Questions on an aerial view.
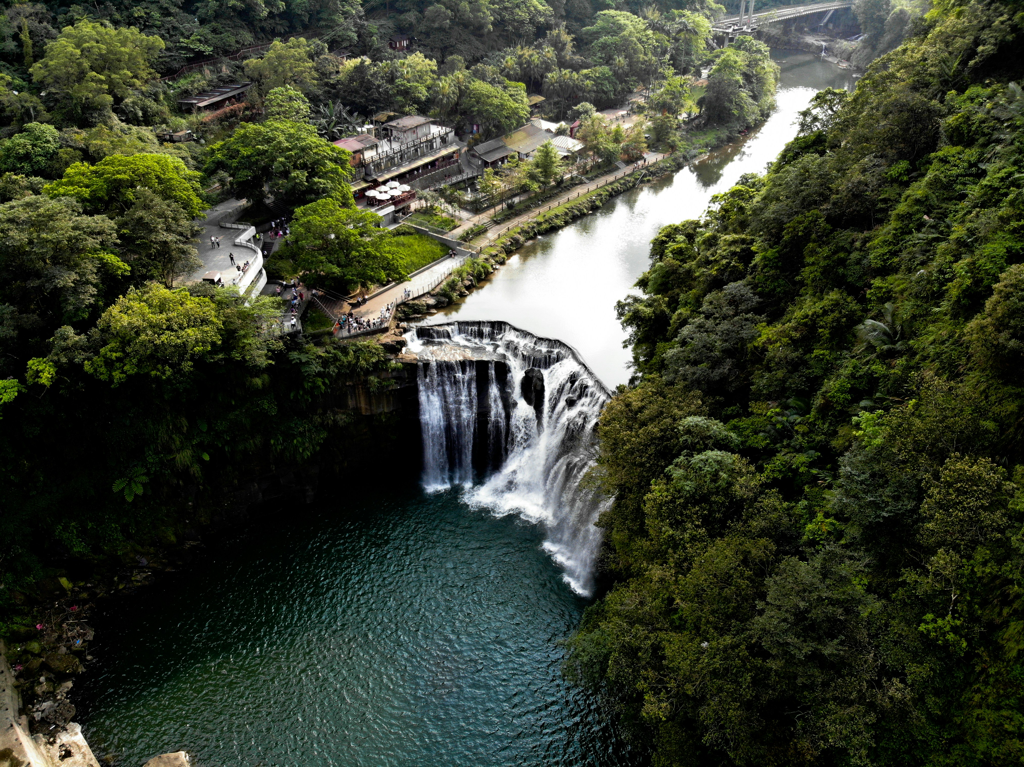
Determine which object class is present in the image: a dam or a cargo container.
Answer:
dam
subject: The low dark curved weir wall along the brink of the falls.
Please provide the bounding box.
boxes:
[412,322,614,417]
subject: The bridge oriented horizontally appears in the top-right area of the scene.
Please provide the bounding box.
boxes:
[712,0,837,38]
